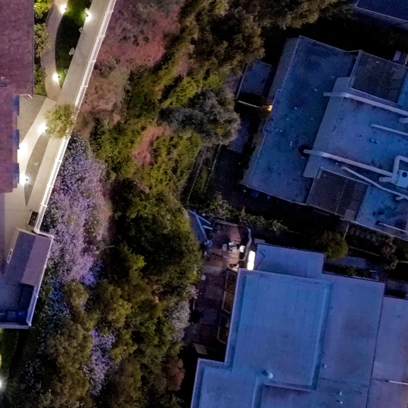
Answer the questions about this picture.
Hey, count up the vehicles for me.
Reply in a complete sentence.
There are no vehicles in this view.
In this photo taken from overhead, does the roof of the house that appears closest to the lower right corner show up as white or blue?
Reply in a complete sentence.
From above, the roof of the house that appears closest to the lower right corner appears blue.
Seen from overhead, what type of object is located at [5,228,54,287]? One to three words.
shed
